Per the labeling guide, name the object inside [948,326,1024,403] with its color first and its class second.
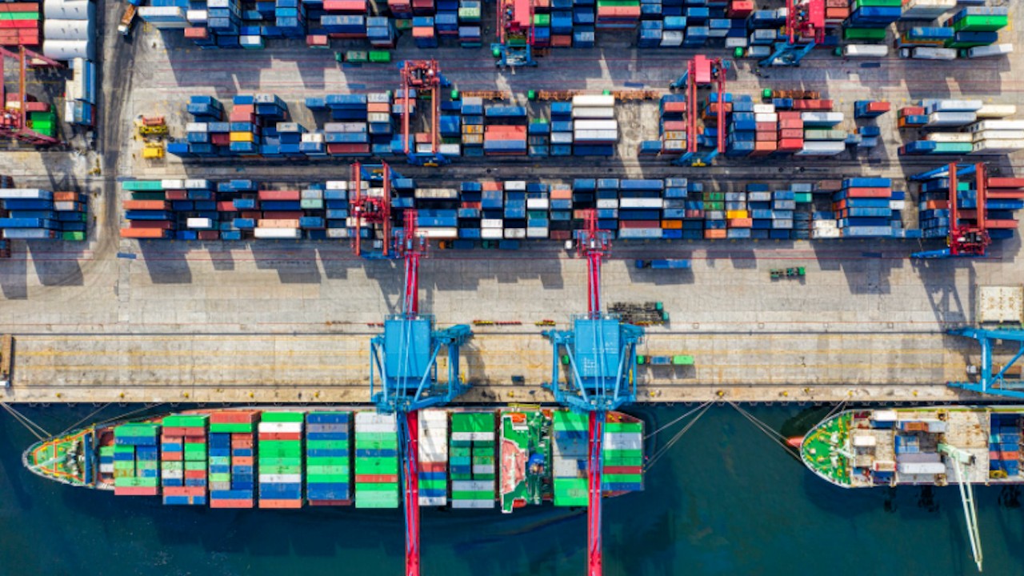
blue container crane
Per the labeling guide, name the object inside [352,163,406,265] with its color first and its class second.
red container crane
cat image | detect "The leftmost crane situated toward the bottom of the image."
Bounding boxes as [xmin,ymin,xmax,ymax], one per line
[367,210,476,576]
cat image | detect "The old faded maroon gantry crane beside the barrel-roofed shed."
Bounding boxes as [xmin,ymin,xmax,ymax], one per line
[0,46,75,145]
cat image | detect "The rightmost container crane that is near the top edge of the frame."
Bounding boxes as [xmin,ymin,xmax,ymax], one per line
[757,0,826,69]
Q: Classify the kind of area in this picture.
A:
port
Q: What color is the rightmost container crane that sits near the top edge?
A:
red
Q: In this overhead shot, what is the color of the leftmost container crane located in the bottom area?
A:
blue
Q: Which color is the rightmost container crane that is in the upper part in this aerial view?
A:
red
